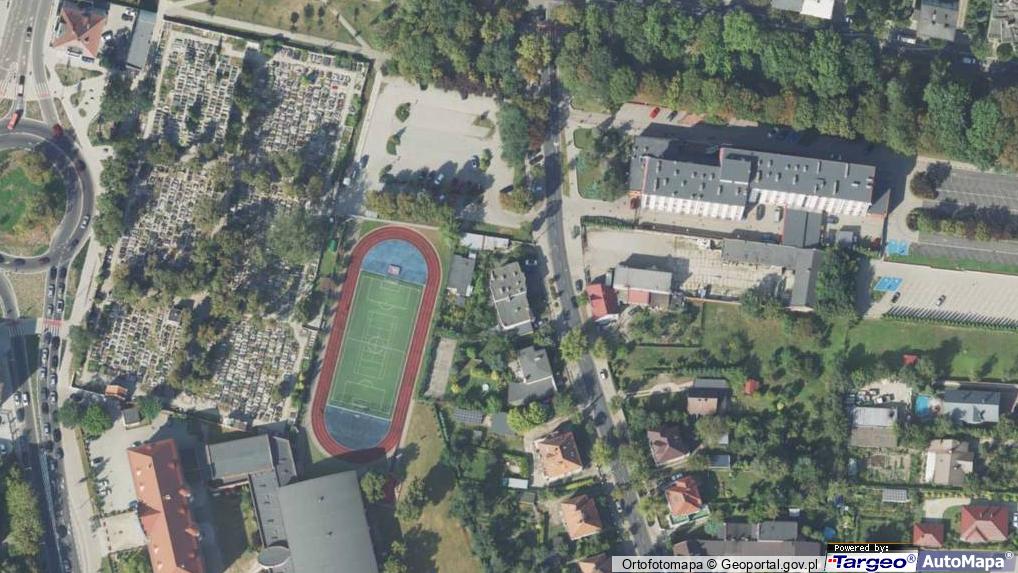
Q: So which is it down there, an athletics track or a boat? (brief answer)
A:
athletics track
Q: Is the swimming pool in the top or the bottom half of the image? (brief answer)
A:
bottom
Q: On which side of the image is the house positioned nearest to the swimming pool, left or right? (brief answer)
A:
right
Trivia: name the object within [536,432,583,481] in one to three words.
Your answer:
house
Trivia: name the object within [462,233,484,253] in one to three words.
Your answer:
shed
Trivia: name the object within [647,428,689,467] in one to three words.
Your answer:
house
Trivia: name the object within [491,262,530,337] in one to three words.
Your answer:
building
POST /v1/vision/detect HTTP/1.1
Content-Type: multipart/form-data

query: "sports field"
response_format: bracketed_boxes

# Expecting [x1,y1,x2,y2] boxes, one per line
[328,270,424,422]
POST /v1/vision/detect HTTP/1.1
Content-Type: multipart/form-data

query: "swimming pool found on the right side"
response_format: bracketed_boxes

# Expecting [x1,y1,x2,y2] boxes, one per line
[915,393,941,417]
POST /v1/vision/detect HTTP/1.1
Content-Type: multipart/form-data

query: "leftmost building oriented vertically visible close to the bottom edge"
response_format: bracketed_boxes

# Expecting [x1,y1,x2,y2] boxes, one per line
[128,438,210,573]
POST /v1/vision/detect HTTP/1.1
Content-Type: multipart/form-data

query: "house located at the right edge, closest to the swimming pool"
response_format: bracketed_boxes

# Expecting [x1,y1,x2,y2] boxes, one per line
[940,391,1002,426]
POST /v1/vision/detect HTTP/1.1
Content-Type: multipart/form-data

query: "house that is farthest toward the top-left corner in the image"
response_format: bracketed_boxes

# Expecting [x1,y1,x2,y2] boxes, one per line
[53,9,109,62]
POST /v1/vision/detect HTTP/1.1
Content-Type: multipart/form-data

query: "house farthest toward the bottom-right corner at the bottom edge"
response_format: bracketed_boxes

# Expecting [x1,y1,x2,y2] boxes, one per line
[957,505,1008,545]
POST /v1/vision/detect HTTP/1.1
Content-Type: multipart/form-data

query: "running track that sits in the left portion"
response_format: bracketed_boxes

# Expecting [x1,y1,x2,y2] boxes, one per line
[311,223,443,465]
